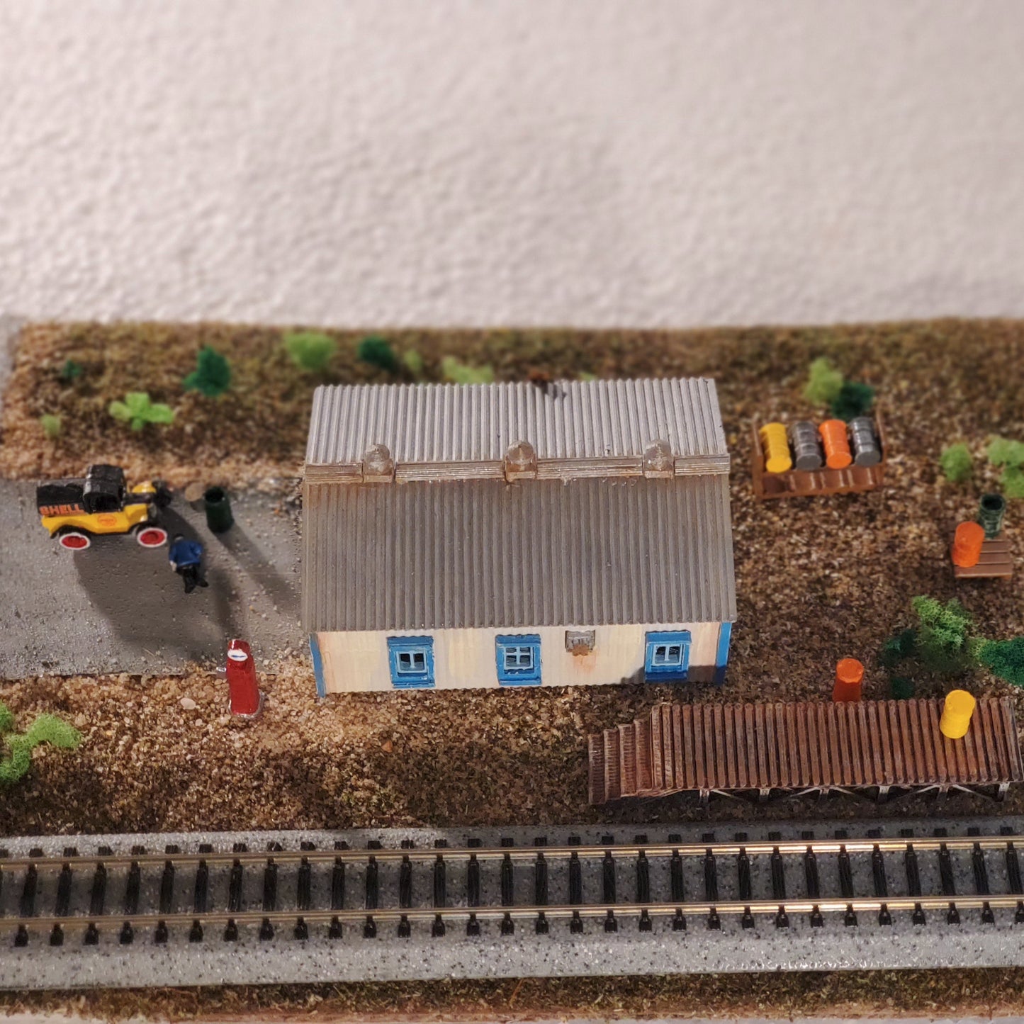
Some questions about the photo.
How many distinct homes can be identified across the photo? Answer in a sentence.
Just 1 home appears in this view.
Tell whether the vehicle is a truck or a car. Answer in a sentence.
I'd identify the vehicle as a truck.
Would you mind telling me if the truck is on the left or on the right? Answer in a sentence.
You can find the truck on the left side of the picture.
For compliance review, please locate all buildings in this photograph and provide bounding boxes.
[298,363,738,701]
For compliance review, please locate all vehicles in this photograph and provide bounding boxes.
[37,465,172,550]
